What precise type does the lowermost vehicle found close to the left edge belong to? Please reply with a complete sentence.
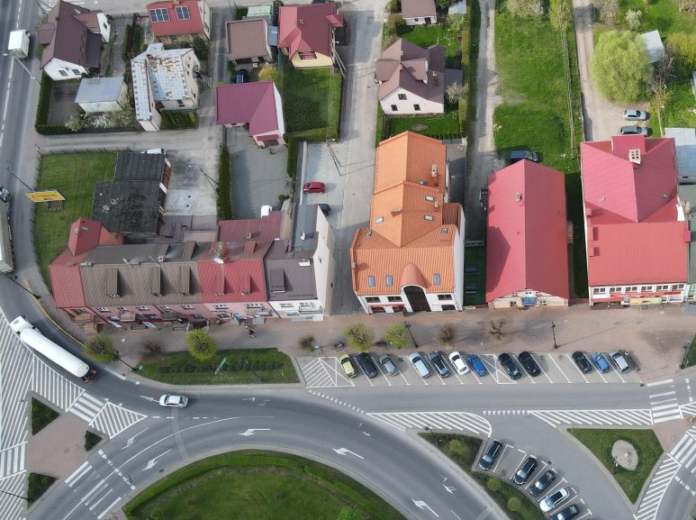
The lowermost vehicle found close to the left edge is a truck.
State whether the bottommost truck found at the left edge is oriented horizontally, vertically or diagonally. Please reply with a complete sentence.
In this picture, the bottommost truck found at the left edge is oriented diagonally.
